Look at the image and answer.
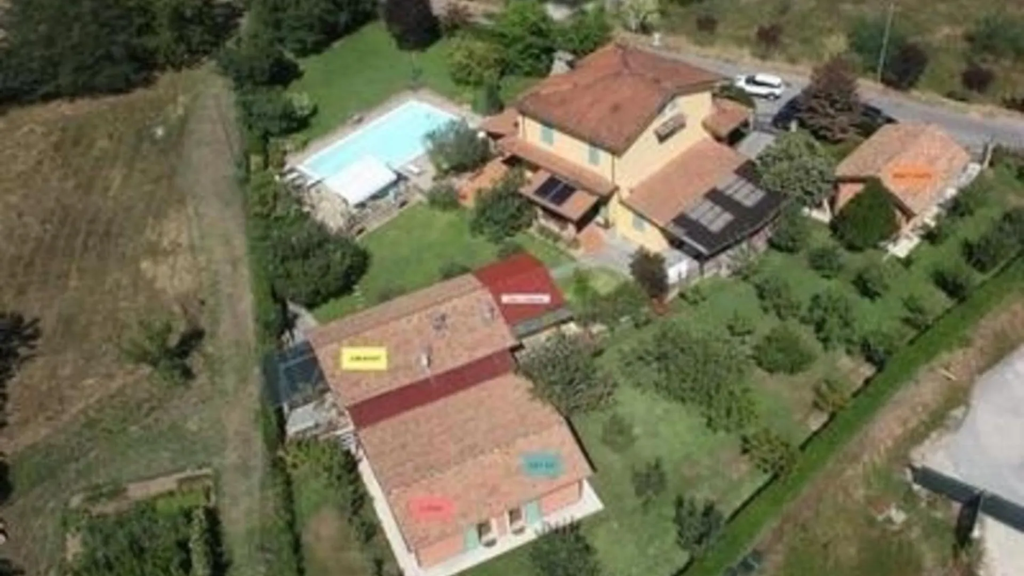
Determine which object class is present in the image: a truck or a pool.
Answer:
pool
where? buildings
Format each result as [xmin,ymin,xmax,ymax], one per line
[835,122,969,235]
[308,276,523,422]
[479,48,751,256]
[353,369,595,574]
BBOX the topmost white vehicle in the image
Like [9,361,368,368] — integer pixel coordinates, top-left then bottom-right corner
[740,73,786,98]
